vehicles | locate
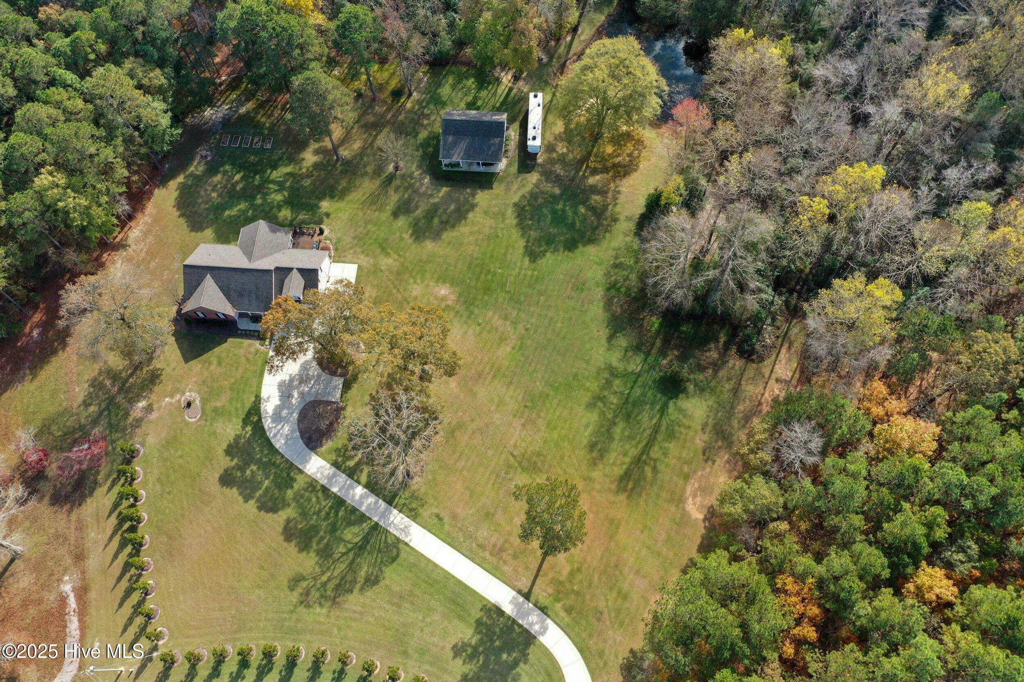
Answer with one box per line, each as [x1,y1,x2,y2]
[527,92,542,156]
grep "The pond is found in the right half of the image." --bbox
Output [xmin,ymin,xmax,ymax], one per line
[586,5,724,125]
